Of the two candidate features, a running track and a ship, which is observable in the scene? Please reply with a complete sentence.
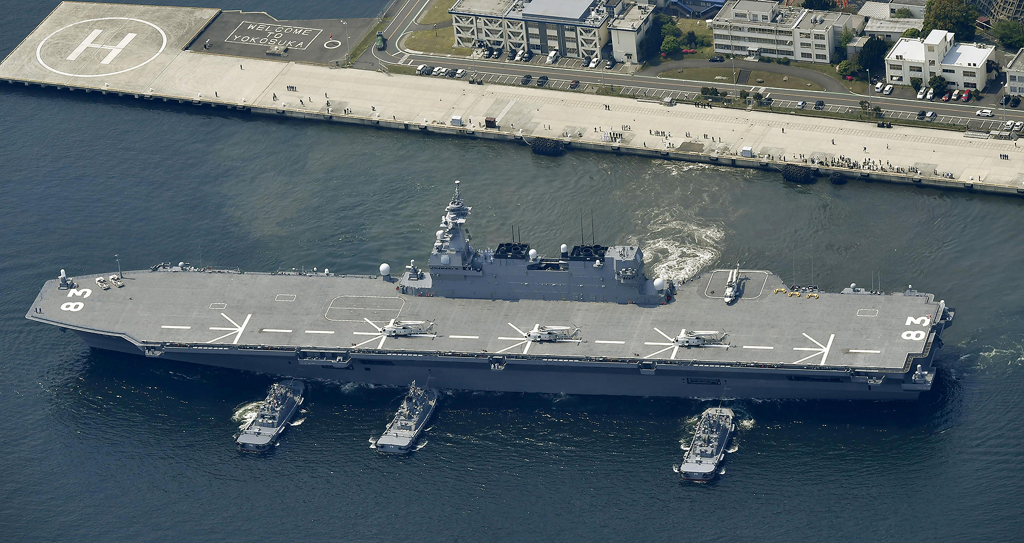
This aerial view contains a ship.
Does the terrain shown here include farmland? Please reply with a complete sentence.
No, no farmland is visible.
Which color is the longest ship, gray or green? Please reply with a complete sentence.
The longest ship looks gray in the image.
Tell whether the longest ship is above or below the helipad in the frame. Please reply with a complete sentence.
Looking at the photo, you'll find the longest ship below the helipad.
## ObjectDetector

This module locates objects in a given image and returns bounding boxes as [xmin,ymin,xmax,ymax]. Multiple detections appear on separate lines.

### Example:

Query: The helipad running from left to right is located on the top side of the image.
[0,0,220,96]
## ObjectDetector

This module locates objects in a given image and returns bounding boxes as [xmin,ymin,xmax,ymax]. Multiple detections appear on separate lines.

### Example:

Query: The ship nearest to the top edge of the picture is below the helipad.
[26,180,956,399]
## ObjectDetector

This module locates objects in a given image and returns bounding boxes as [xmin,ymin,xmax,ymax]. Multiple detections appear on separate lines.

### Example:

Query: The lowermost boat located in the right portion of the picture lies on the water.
[679,400,735,483]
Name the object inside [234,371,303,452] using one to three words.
boat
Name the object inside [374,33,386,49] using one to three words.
vehicle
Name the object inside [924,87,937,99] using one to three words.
vehicle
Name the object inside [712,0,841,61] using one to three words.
building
